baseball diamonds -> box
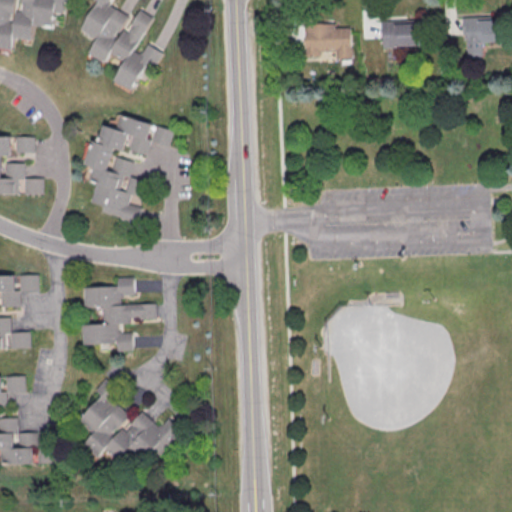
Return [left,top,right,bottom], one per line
[326,305,512,512]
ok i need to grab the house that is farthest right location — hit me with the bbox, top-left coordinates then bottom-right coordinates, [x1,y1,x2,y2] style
[458,12,501,60]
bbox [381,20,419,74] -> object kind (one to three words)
house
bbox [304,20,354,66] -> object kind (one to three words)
house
